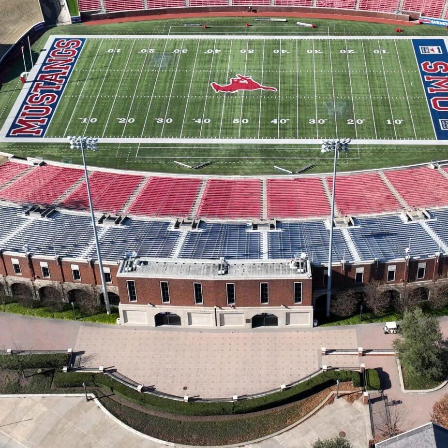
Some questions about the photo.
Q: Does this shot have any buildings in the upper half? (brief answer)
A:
No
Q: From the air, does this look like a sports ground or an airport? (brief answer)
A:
sports ground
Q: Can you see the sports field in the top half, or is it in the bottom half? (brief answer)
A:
top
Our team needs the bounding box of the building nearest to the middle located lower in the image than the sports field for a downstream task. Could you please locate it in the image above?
[112,257,315,328]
